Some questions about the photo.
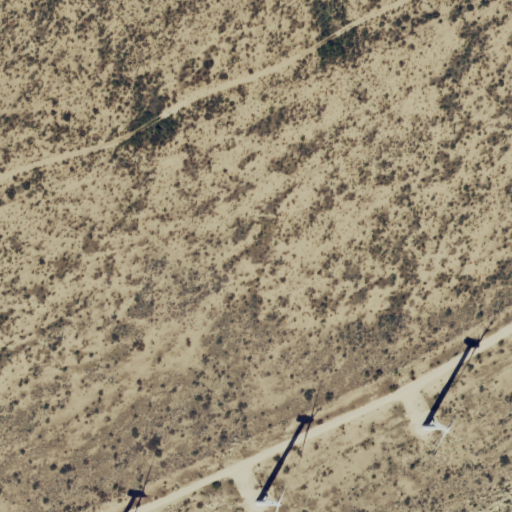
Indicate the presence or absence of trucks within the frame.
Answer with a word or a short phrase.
No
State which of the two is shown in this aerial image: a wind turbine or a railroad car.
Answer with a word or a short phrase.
wind turbine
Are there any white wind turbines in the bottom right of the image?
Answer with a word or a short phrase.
Yes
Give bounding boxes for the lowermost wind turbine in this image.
[254,488,286,512]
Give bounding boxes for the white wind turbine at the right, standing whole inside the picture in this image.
[421,414,458,459]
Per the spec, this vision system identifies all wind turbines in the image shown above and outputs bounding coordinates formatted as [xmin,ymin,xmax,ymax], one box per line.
[254,488,286,512]
[421,414,458,459]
